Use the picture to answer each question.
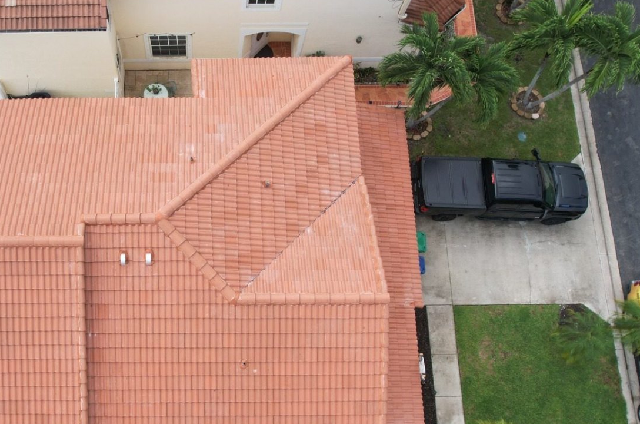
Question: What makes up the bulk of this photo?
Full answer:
What you mostly see from above here is buildings.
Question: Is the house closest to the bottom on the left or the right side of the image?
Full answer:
It is on the left.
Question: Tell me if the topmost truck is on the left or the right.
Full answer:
It is on the right.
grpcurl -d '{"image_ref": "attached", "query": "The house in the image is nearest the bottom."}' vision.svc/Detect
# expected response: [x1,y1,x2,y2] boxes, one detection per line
[0,53,426,424]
